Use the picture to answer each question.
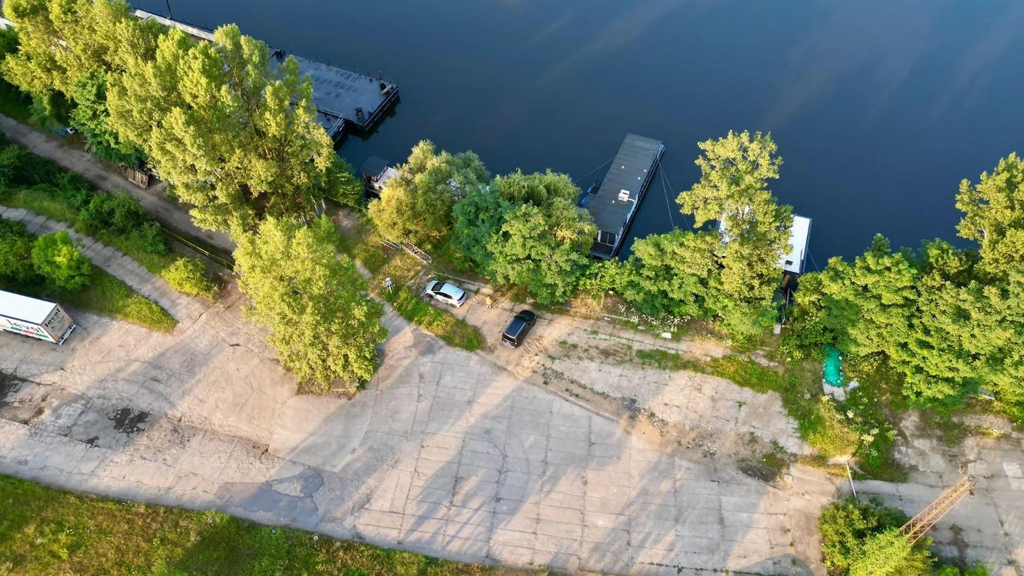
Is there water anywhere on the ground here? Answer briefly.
Yes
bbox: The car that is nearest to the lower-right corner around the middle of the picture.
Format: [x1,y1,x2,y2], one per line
[499,302,540,347]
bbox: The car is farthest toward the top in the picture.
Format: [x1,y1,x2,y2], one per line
[422,276,470,307]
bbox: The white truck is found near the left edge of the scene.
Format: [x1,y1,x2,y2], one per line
[0,288,79,346]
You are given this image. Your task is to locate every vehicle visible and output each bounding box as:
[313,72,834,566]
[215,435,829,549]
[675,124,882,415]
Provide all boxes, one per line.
[0,288,79,346]
[499,302,540,347]
[422,276,470,307]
